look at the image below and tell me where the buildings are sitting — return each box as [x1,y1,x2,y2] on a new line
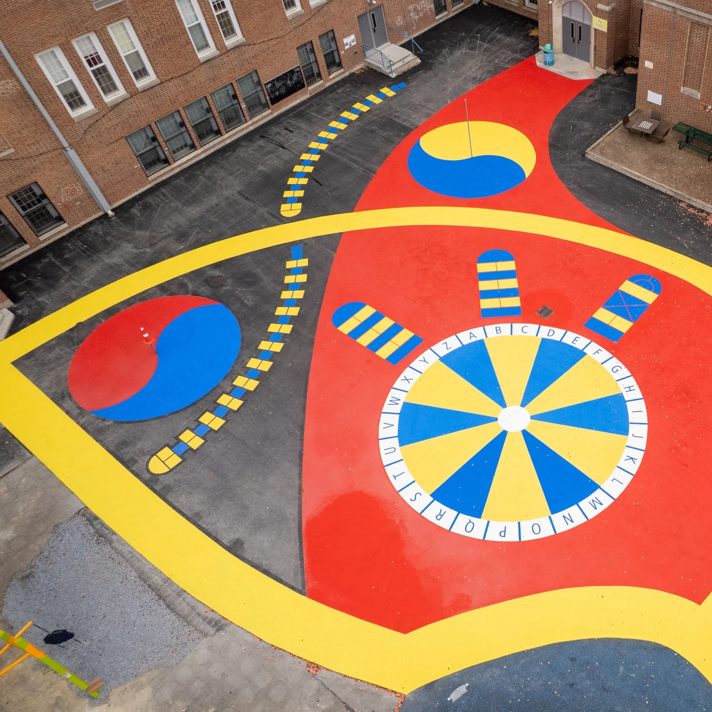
[636,0,712,132]
[0,0,539,310]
